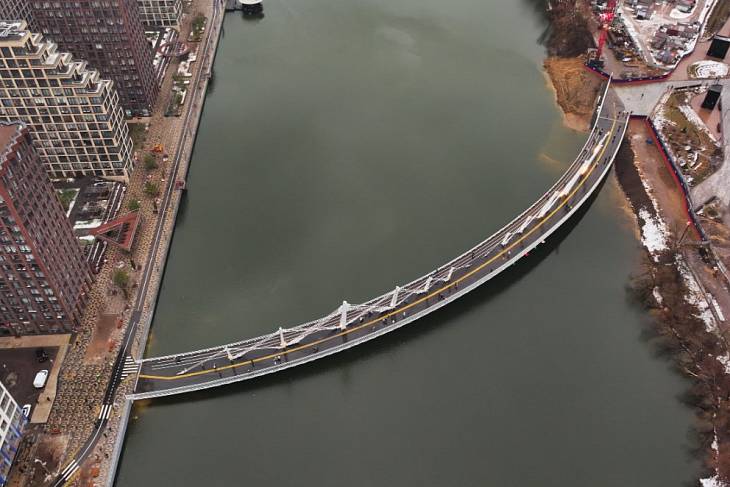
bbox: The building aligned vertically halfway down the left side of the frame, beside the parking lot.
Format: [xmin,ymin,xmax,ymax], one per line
[0,122,98,339]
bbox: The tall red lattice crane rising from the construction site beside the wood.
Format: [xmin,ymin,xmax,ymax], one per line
[583,0,622,63]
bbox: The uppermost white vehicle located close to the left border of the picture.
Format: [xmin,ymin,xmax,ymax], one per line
[31,369,47,386]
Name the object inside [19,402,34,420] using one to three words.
car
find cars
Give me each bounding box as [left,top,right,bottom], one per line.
[35,348,46,360]
[19,402,34,420]
[31,369,47,386]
